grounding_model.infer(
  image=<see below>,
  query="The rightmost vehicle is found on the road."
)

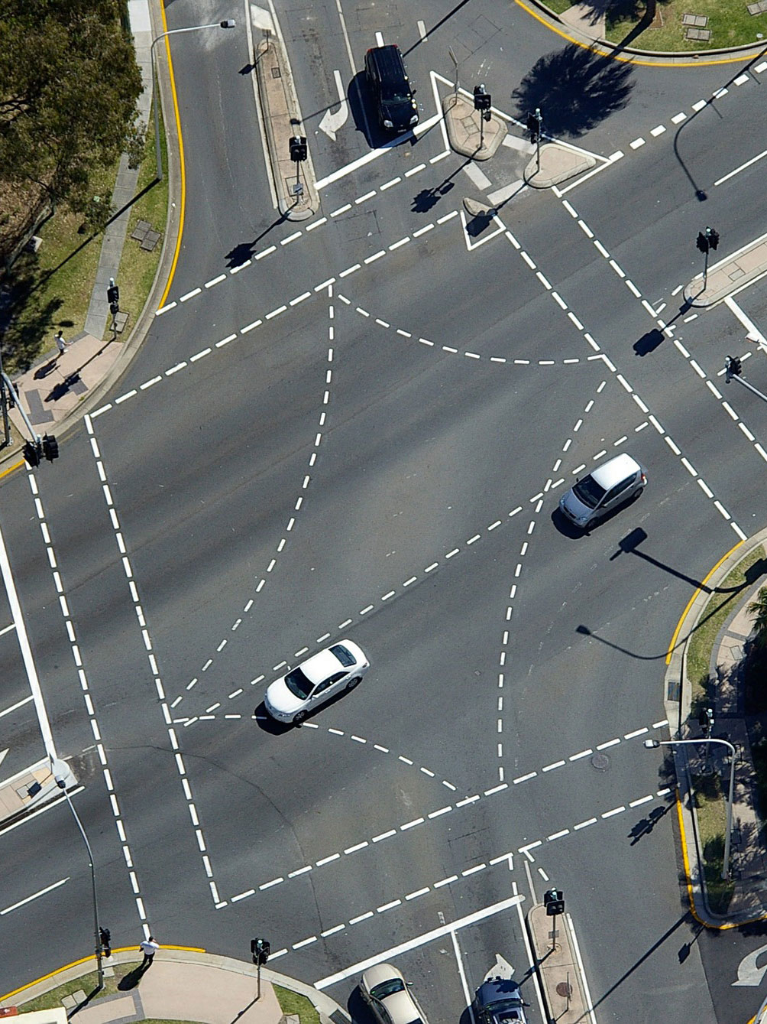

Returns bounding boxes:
[559,454,648,530]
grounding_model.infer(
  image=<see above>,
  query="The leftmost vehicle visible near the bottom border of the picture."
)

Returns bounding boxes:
[363,964,439,1024]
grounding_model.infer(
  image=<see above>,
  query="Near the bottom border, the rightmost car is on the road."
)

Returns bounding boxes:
[473,972,531,1024]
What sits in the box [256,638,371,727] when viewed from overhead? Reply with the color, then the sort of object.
white car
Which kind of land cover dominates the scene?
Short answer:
paved ground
